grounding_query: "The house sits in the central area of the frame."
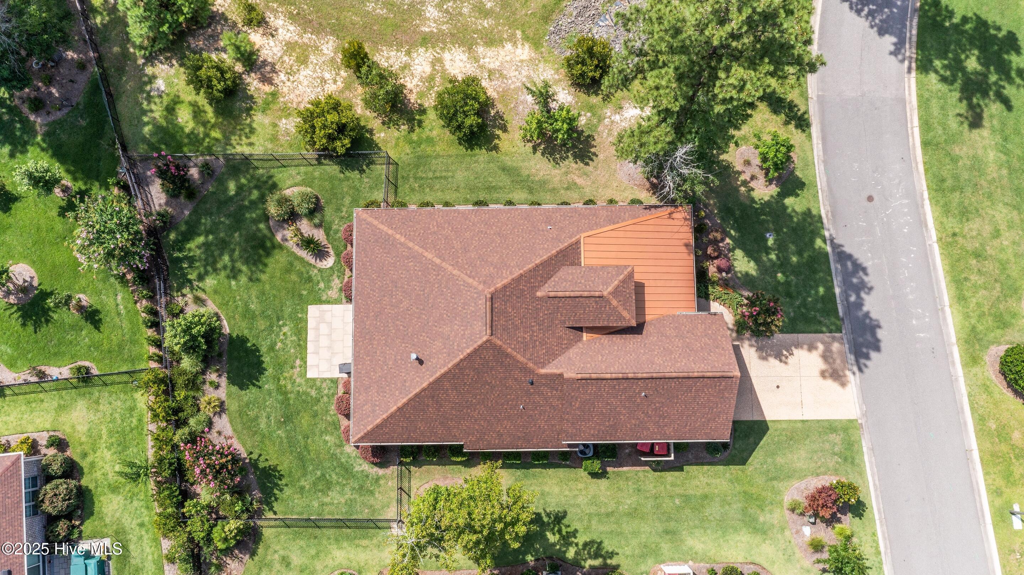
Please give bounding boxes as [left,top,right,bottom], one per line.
[349,203,739,452]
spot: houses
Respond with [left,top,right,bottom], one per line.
[349,203,739,452]
[0,450,51,575]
